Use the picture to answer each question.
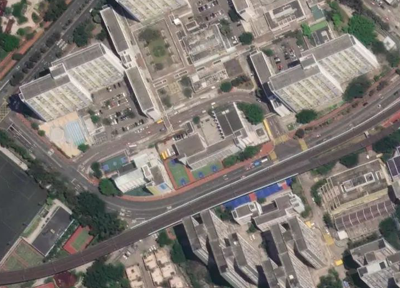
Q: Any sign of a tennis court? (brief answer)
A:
Yes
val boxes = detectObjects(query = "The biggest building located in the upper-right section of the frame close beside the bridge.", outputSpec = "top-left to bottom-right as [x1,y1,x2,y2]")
[269,34,374,112]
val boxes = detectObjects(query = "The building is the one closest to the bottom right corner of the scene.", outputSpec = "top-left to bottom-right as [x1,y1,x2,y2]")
[350,238,400,288]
